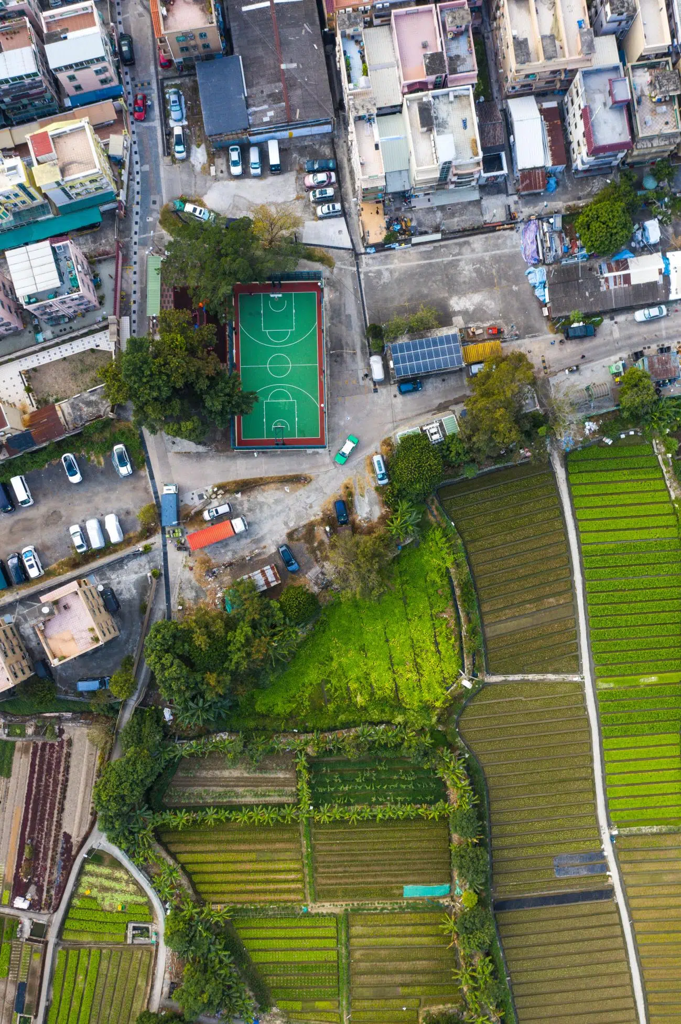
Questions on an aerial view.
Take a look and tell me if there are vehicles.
Yes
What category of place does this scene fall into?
residential area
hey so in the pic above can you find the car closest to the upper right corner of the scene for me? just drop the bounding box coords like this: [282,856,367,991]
[633,306,667,322]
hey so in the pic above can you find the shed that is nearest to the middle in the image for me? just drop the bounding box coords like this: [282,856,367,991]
[239,563,283,592]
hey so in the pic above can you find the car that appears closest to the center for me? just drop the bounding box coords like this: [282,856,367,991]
[334,498,349,526]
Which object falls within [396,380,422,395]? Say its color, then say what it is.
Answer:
blue car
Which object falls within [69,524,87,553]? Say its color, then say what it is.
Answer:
white car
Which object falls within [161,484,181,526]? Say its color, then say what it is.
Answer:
blue vehicle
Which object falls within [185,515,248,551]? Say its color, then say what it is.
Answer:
red truck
